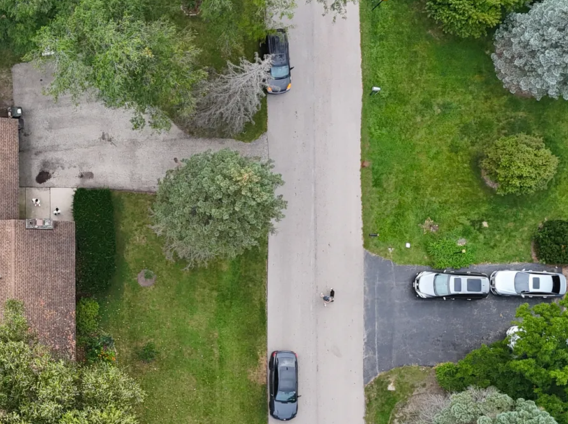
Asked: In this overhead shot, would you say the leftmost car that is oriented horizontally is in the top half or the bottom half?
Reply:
bottom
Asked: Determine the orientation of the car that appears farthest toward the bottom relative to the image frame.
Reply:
up and down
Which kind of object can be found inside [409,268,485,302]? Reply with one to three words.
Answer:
car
